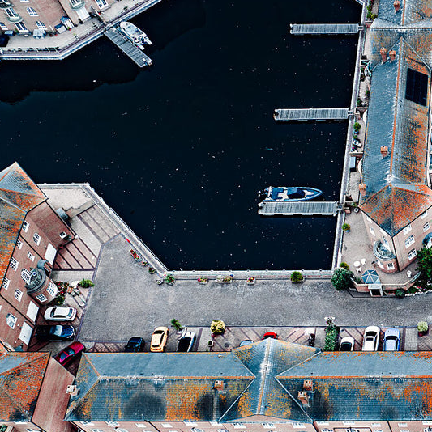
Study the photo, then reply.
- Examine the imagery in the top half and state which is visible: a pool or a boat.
boat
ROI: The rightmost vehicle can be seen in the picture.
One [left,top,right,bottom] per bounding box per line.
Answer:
[383,327,400,351]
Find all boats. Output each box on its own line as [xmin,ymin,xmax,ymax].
[121,24,153,51]
[263,189,322,203]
